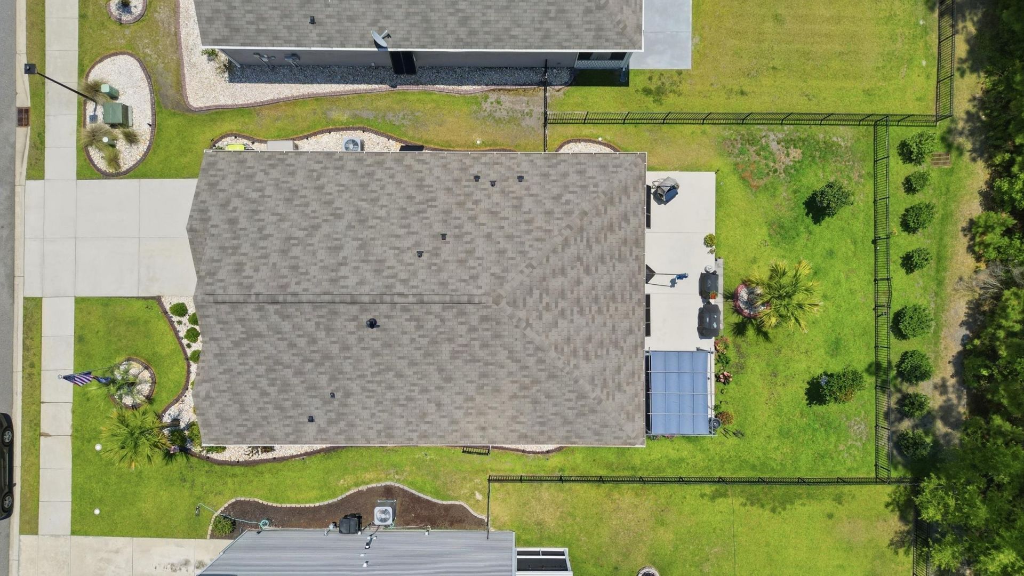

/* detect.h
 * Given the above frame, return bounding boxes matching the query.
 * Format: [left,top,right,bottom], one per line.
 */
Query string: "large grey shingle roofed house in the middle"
[187,143,656,448]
